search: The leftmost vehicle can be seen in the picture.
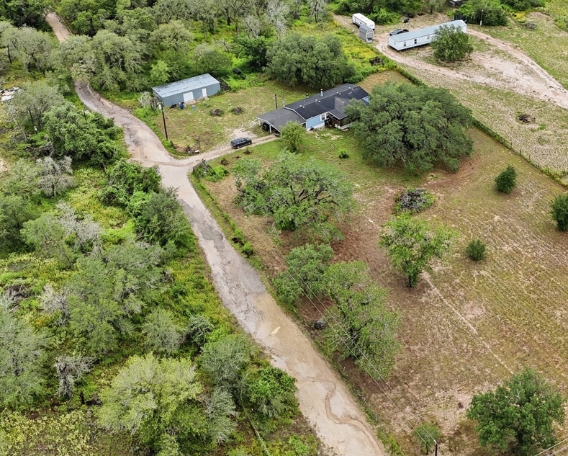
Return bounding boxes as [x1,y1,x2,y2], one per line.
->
[228,137,253,149]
